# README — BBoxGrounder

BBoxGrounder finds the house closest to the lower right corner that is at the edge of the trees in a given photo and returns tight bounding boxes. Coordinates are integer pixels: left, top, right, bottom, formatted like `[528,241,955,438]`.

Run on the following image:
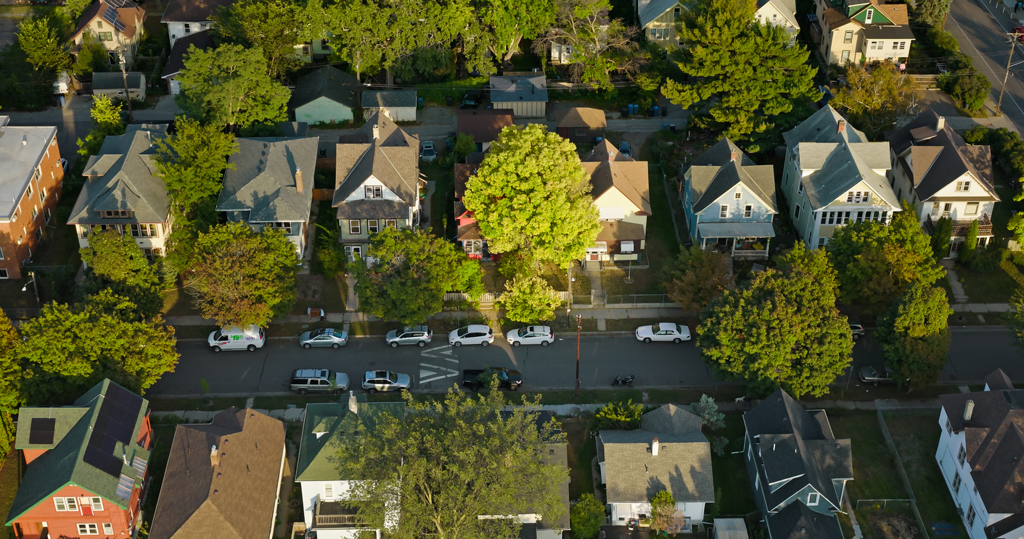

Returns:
[926,361,1024,539]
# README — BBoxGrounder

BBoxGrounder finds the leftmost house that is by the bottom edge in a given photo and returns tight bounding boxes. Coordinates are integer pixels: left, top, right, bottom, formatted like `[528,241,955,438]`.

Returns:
[0,376,176,539]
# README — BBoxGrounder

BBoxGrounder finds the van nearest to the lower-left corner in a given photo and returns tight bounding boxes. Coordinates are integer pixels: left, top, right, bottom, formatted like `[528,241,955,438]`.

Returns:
[207,323,268,352]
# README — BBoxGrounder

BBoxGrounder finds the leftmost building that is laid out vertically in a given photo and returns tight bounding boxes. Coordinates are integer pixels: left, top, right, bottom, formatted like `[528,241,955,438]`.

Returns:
[0,112,68,278]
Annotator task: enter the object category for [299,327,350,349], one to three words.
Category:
car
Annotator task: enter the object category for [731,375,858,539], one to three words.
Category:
house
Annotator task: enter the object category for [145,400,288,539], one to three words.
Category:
house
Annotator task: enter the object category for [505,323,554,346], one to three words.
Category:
car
